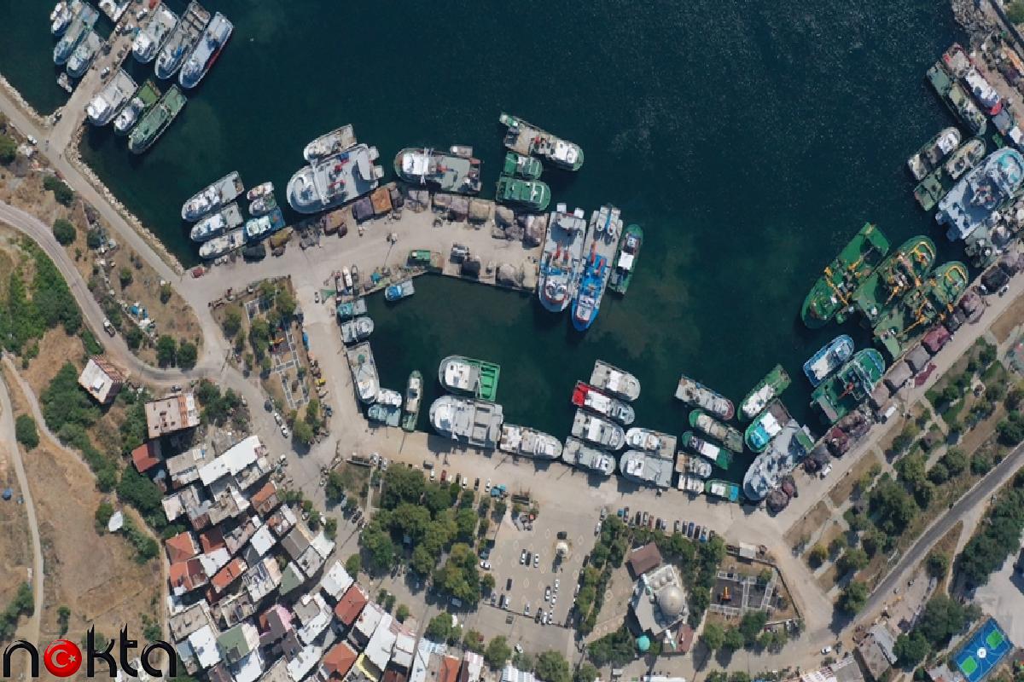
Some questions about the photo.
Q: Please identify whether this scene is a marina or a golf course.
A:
marina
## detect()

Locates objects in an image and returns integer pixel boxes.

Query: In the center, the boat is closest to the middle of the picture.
[438,356,502,402]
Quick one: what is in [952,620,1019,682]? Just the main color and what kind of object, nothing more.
blue sports court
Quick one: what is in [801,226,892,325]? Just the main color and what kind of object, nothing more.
green boat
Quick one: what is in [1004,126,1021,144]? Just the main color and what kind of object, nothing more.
white boat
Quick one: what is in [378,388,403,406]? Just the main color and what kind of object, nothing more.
white boat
